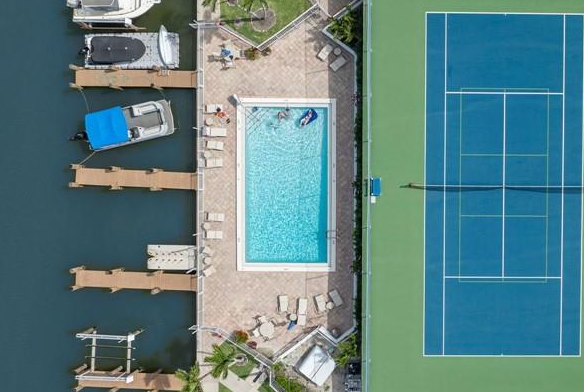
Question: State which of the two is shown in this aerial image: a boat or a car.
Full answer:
Of the two, only a boat appears.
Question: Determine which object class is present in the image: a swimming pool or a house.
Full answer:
There is a swimming pool in the scene.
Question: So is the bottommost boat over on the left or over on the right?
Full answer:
The bottommost boat is on the left side of the image.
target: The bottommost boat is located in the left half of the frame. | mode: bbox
[67,102,176,151]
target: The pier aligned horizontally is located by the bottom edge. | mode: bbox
[73,362,199,392]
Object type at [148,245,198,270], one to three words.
pier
